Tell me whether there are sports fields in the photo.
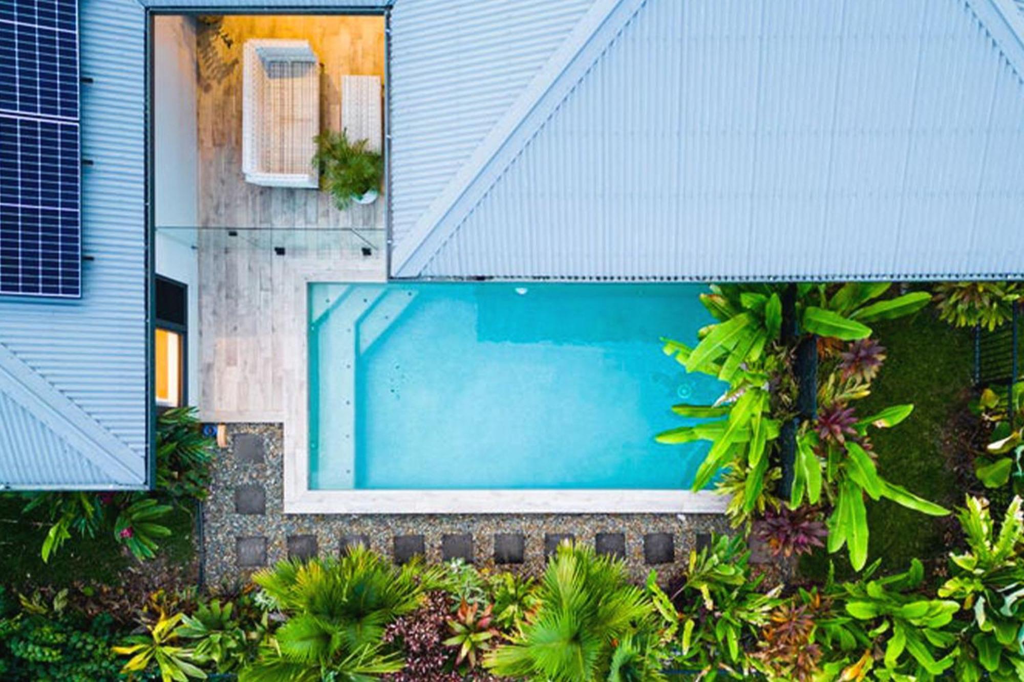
No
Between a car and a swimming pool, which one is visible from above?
swimming pool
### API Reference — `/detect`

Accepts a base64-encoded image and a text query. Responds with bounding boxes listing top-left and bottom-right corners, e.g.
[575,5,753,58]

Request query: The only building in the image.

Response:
[0,0,1024,494]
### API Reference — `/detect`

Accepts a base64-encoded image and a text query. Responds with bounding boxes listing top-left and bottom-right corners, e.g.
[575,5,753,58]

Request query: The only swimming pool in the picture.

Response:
[308,282,736,490]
